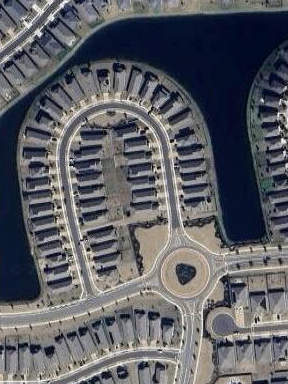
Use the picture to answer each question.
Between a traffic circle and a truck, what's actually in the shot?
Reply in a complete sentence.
This aerial view contains a traffic circle.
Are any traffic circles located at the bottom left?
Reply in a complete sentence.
No, I can find no traffic circle at the bottom left.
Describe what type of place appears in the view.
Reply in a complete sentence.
The picture captures a residential area.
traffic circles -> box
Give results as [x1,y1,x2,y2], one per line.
[154,240,216,305]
